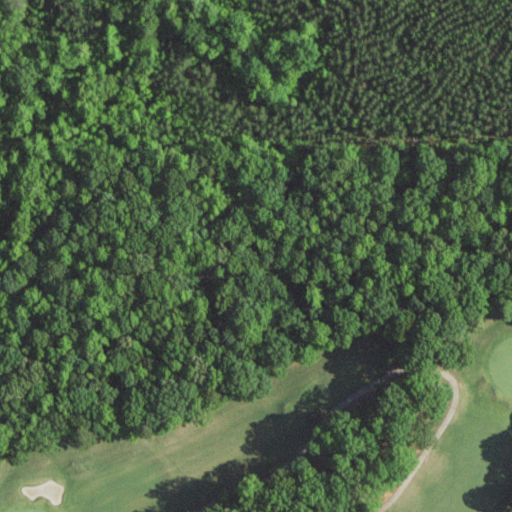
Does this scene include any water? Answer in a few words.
No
